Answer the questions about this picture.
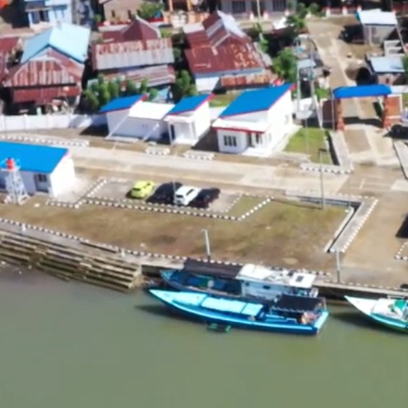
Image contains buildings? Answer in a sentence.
Yes, this view includes a building.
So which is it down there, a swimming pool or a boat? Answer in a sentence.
The image shows a boat.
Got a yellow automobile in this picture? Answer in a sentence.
Yes, a yellow automobile can be made out from above.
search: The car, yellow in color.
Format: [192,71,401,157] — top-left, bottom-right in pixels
[131,182,157,198]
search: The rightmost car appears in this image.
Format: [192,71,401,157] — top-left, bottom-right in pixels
[194,189,221,205]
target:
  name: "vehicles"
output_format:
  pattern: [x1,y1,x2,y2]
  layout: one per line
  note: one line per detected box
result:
[175,187,203,203]
[131,182,157,198]
[194,189,221,205]
[152,185,181,202]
